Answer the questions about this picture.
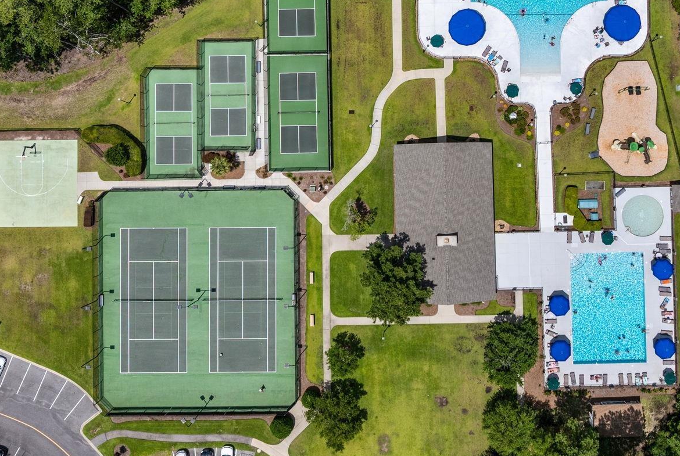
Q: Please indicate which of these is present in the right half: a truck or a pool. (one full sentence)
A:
The feature located in the right half is a pool.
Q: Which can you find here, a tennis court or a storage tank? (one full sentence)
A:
The one in the frame is a tennis court.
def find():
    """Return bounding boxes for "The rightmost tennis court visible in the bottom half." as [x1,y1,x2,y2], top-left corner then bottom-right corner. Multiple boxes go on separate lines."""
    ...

[201,227,282,372]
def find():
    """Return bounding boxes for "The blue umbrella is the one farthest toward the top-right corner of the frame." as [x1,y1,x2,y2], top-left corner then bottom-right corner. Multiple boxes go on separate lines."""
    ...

[603,3,640,41]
